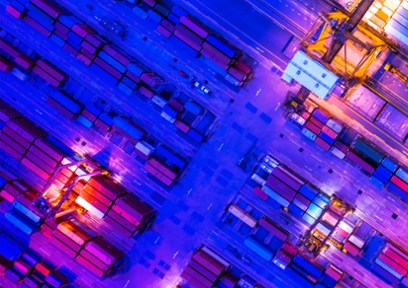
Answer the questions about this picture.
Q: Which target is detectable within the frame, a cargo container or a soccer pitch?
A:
cargo container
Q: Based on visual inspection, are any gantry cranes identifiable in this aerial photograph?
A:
Yes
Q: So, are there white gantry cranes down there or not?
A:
No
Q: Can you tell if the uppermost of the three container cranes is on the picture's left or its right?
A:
right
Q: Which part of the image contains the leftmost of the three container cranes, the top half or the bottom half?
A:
bottom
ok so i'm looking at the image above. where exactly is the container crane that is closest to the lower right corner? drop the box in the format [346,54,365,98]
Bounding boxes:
[299,190,356,258]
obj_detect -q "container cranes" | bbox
[278,0,389,116]
[22,157,108,225]
[299,190,356,258]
